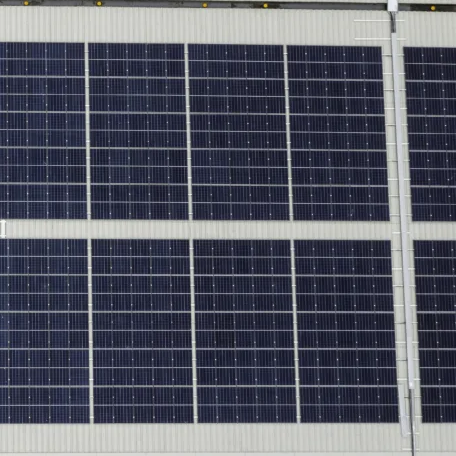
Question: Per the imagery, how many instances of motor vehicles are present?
0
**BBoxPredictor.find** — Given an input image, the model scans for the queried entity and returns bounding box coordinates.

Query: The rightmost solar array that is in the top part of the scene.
[403,47,456,223]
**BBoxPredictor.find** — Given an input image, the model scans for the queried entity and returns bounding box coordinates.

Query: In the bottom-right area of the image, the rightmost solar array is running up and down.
[413,240,456,423]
